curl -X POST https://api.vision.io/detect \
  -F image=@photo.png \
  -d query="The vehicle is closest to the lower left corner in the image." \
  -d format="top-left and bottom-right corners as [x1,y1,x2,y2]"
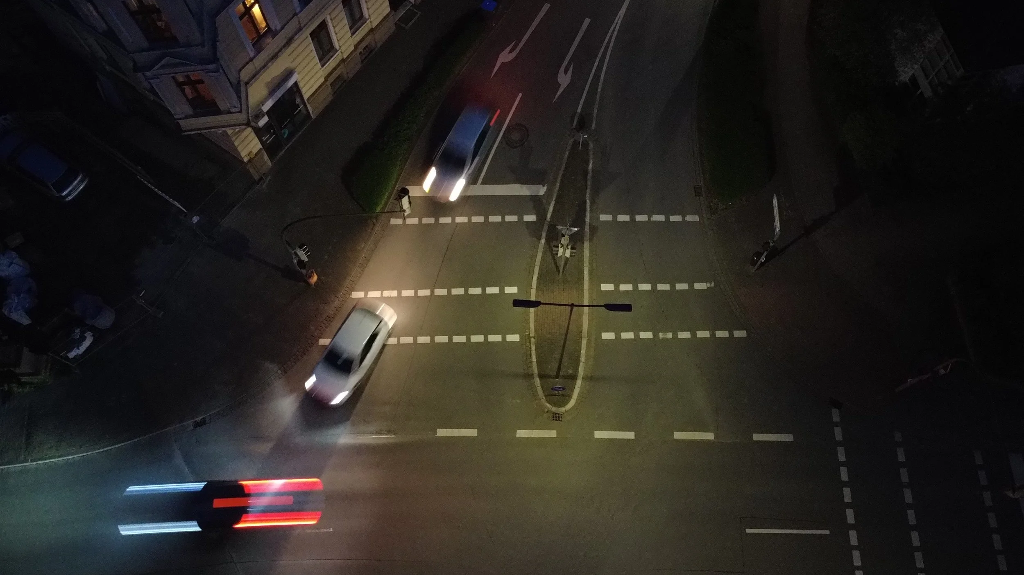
[148,473,289,539]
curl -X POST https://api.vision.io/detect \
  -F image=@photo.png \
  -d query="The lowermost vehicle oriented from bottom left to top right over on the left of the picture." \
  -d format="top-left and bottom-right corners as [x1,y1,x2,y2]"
[304,296,401,408]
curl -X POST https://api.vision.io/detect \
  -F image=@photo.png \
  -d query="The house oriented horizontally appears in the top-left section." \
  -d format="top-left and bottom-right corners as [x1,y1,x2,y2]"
[0,0,394,180]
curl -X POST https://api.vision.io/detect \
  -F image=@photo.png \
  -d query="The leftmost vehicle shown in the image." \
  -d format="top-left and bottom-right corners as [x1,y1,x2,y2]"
[0,126,93,203]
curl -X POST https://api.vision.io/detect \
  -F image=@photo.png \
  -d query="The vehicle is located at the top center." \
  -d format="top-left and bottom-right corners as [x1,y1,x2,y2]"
[425,109,494,200]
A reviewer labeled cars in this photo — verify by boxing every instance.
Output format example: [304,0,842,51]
[425,109,494,200]
[148,473,289,539]
[0,126,93,203]
[304,296,401,408]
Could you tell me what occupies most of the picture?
paved ground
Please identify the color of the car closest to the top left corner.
black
